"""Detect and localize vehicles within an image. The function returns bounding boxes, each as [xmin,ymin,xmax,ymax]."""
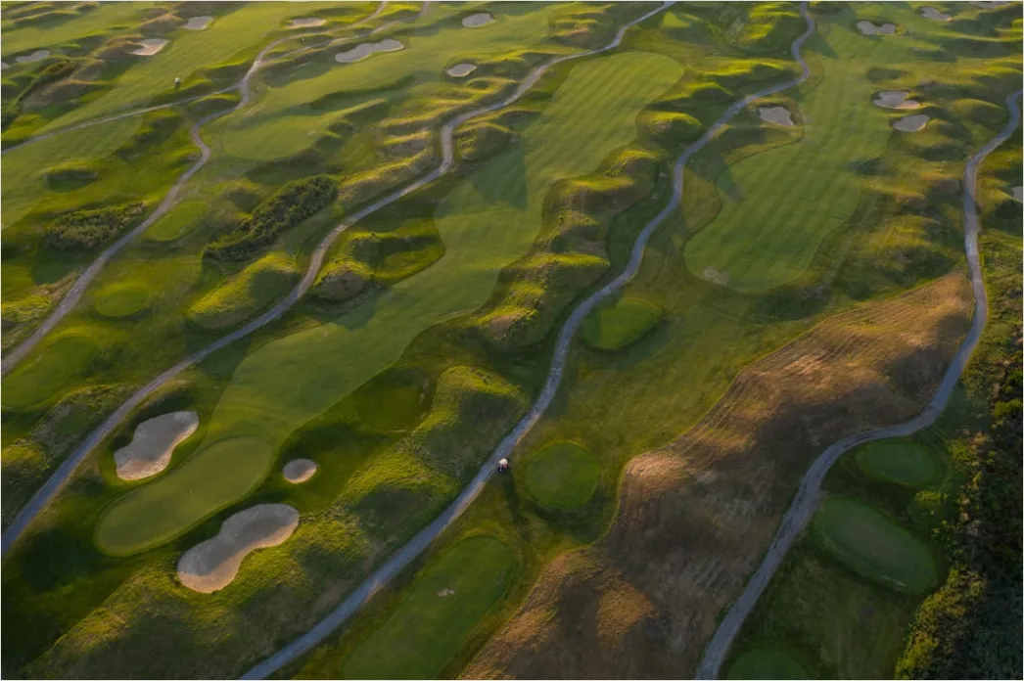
[497,461,509,476]
[173,78,181,86]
